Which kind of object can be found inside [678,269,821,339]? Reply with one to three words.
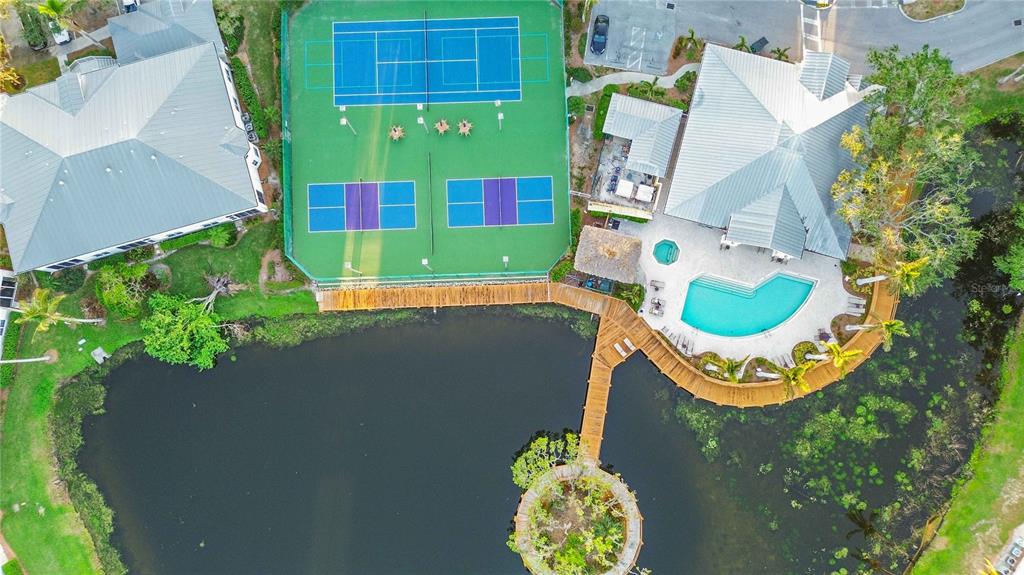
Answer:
swimming pool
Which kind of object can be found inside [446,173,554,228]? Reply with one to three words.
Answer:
sports court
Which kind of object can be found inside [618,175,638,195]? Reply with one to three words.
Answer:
umbrella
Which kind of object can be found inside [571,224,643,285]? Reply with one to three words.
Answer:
shed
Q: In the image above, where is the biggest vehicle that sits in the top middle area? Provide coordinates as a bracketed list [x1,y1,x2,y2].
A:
[592,15,609,53]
